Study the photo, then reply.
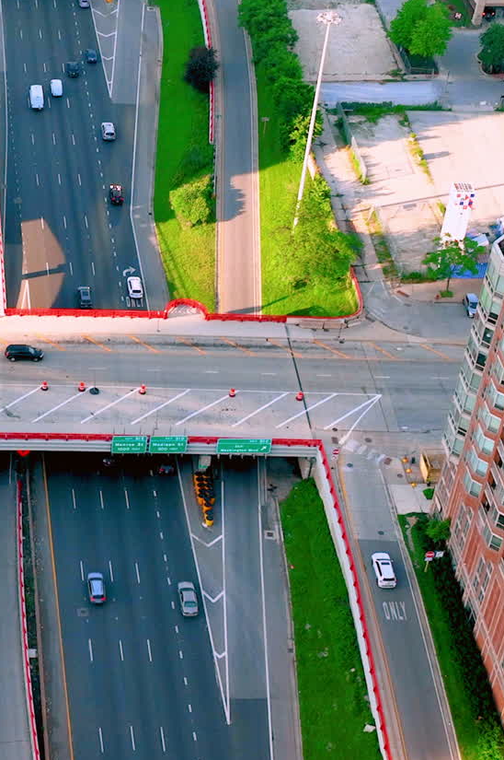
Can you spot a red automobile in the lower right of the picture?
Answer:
No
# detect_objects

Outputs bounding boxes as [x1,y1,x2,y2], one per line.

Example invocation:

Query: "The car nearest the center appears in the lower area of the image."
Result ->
[155,453,176,482]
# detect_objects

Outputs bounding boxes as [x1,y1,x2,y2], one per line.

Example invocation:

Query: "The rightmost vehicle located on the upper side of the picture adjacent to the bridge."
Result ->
[127,273,145,298]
